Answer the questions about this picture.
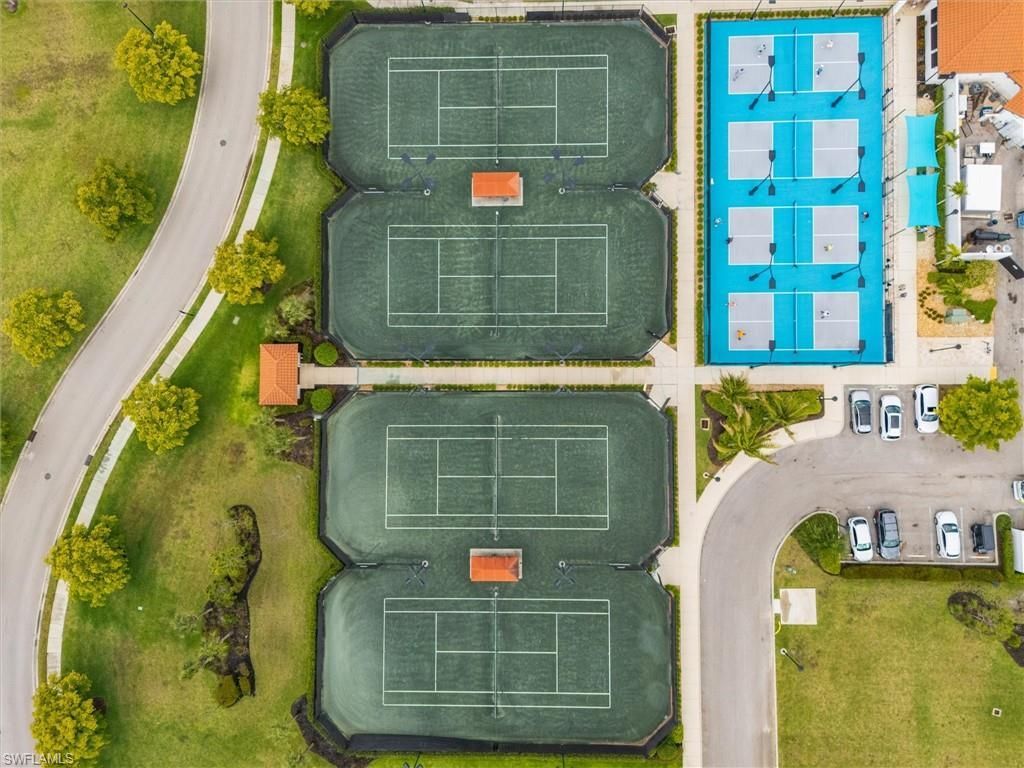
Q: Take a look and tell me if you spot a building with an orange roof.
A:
Yes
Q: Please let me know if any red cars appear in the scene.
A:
No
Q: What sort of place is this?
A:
sports ground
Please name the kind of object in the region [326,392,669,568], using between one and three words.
tennis court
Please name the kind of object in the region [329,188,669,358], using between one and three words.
tennis court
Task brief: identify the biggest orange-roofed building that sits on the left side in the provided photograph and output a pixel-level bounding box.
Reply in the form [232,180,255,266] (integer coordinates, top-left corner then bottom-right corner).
[258,344,305,406]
